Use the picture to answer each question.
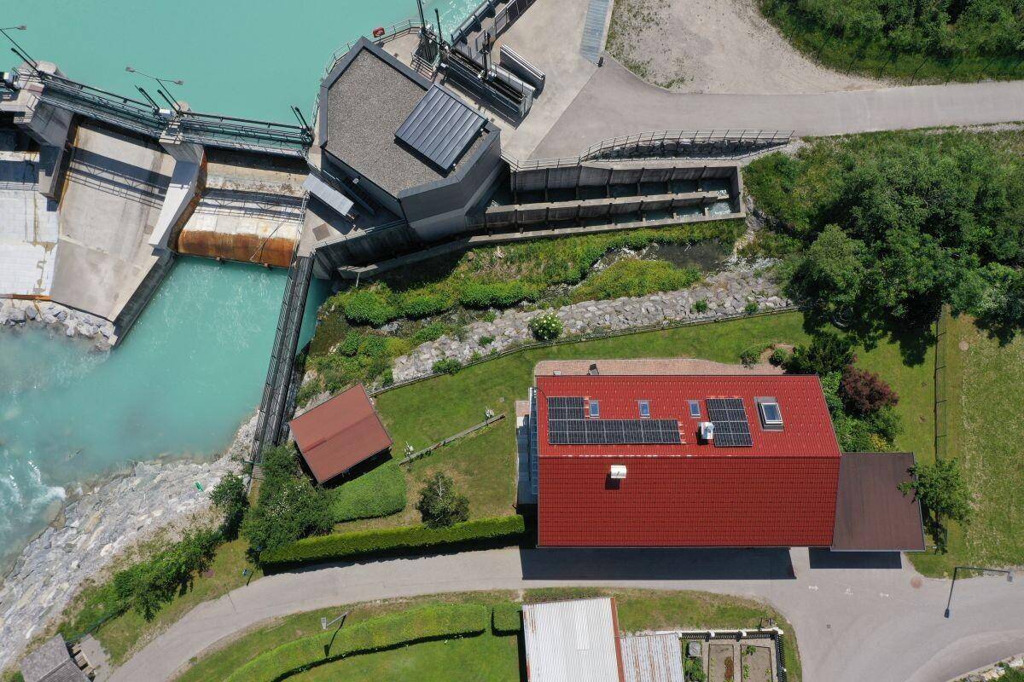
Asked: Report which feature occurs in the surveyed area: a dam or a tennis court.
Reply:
dam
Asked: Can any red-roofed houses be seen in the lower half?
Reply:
Yes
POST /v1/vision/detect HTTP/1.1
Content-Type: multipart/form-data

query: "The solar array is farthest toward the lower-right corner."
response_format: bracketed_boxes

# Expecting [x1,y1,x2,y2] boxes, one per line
[705,399,755,446]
